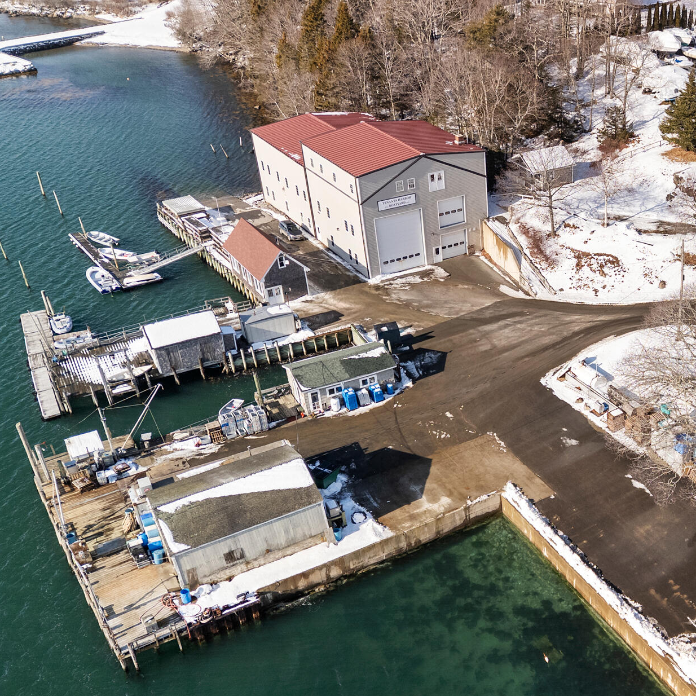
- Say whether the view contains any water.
Yes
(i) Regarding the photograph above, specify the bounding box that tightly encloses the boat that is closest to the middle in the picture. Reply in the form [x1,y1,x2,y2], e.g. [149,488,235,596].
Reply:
[218,396,246,413]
